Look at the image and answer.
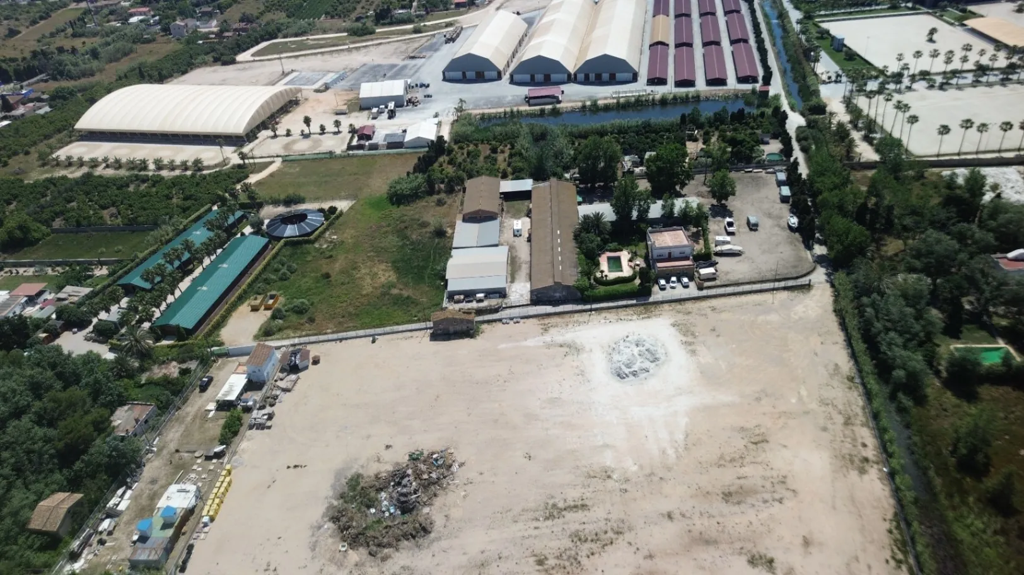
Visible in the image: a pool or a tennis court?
pool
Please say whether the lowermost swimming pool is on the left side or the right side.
right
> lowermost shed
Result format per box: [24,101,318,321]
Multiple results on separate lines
[128,538,175,569]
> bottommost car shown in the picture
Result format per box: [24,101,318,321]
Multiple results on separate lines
[198,375,212,391]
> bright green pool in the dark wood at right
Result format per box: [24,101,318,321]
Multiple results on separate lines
[953,345,1016,366]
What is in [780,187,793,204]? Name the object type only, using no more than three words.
vehicle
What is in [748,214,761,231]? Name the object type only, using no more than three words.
vehicle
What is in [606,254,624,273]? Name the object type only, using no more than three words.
swimming pool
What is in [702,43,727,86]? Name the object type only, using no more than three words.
shed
